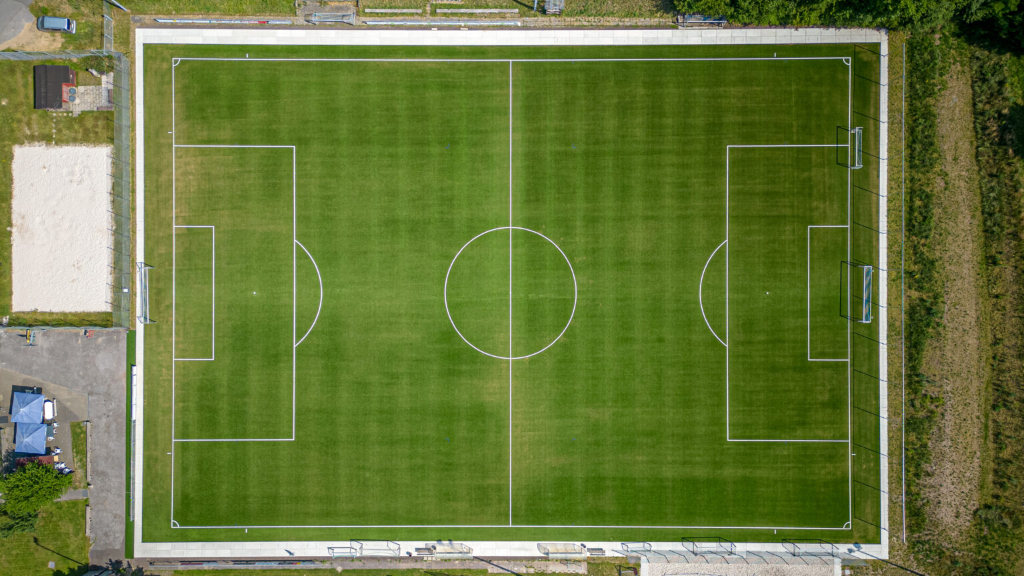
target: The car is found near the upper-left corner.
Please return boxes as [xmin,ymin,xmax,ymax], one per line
[38,15,77,36]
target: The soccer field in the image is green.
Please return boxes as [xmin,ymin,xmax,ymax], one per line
[142,43,881,544]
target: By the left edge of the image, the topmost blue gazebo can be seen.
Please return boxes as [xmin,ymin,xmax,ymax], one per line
[11,390,55,424]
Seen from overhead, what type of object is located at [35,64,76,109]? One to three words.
shed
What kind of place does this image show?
sports ground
